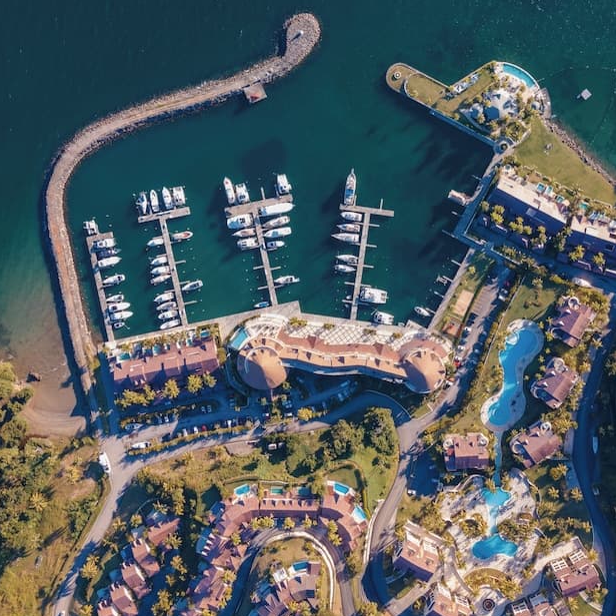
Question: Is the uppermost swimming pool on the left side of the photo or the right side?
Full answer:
The uppermost swimming pool appears in the right half of the scene.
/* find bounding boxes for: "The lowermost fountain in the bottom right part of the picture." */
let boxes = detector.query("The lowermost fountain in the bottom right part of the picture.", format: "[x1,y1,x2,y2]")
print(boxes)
[479,596,497,615]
